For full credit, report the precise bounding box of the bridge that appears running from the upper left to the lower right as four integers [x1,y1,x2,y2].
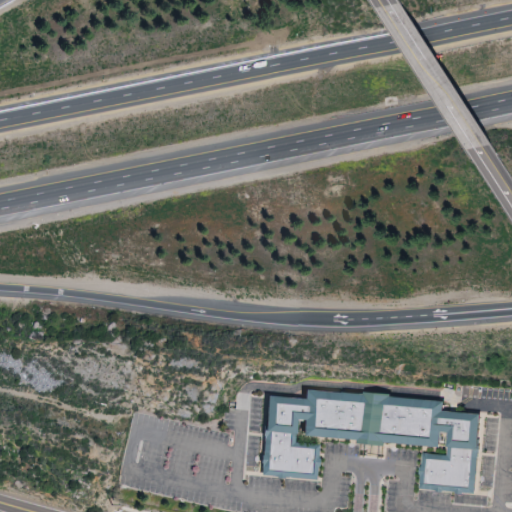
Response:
[372,0,492,154]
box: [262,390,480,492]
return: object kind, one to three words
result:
building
